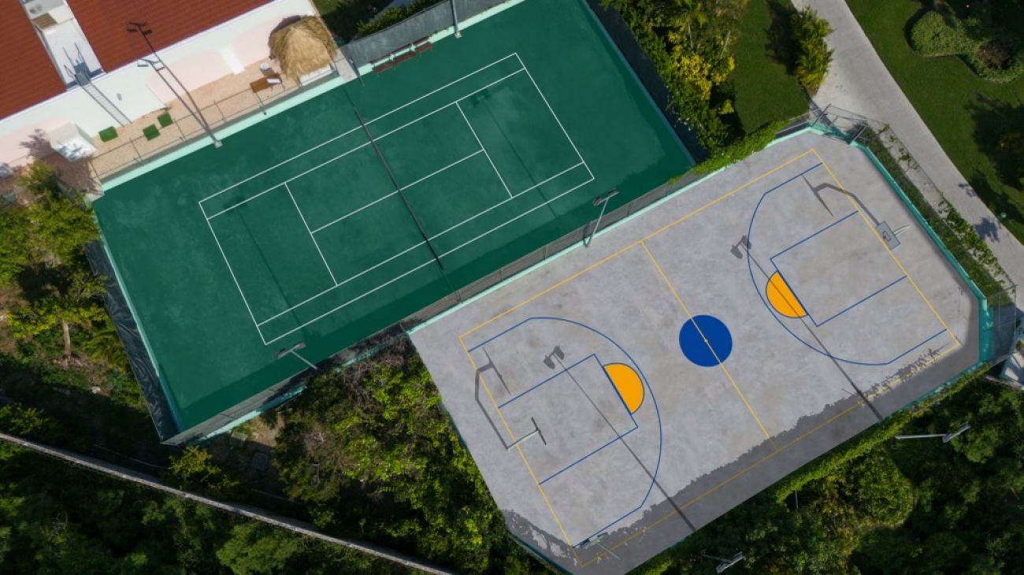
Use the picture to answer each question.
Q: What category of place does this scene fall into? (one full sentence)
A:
What you see here is a sports ground.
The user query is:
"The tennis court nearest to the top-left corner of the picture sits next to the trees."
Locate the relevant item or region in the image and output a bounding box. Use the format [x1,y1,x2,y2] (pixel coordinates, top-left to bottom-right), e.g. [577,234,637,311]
[98,0,692,434]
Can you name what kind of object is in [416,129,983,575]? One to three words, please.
basketball court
